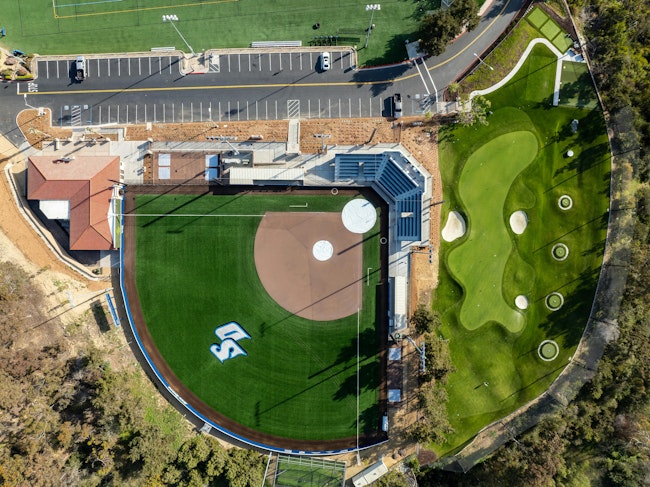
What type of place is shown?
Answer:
sports ground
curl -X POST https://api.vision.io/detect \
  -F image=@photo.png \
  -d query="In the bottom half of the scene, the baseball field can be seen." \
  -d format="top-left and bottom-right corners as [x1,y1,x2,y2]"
[124,186,388,449]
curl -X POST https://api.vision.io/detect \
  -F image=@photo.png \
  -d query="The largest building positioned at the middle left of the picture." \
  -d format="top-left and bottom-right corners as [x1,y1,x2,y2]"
[27,156,125,250]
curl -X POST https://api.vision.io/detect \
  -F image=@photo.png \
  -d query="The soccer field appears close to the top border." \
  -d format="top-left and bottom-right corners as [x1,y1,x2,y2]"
[0,0,479,68]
